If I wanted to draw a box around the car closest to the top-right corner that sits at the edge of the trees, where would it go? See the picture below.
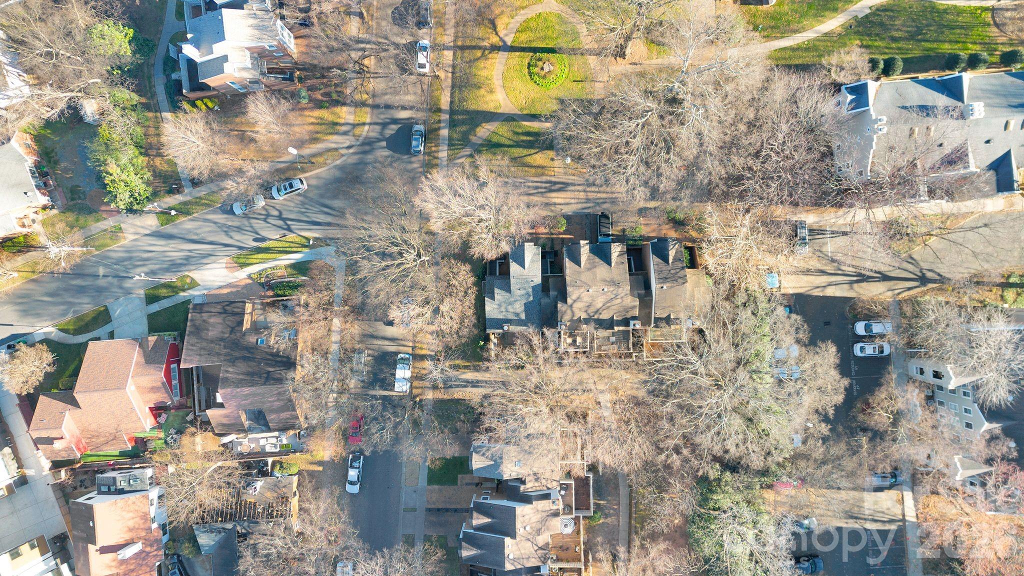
[793,221,811,256]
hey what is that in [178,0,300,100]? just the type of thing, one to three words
house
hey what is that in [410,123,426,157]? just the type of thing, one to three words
car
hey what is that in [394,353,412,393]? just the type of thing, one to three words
vehicle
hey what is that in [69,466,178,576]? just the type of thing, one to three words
house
